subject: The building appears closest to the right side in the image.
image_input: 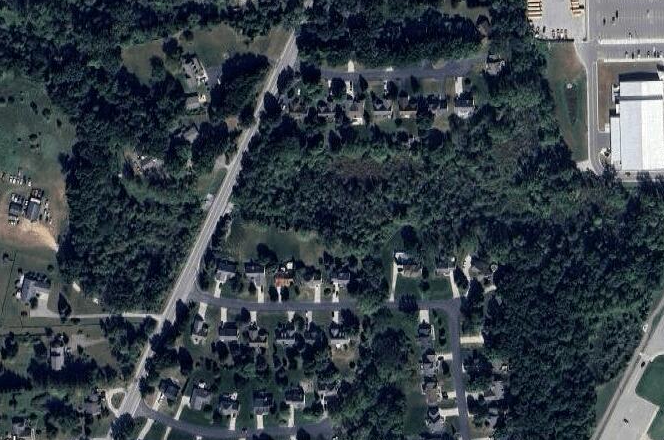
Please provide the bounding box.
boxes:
[610,66,664,171]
